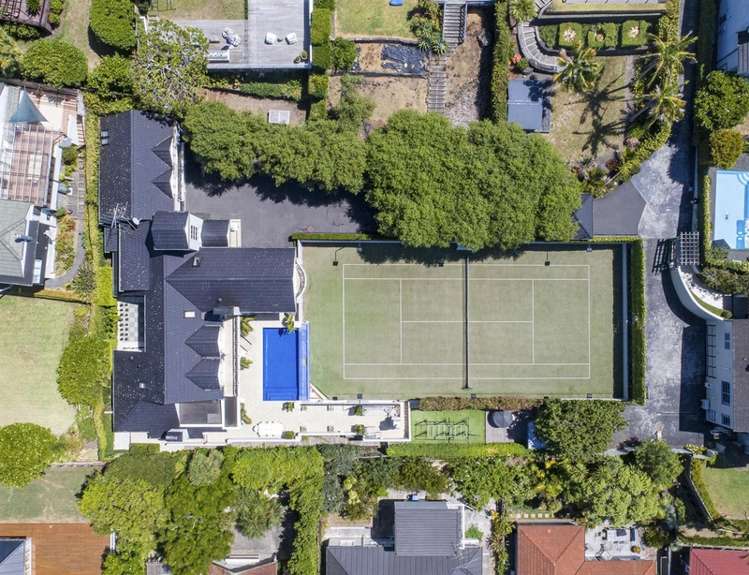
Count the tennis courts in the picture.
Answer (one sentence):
The picture shows just 1 tennis court.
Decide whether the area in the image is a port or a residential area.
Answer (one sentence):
The area seen from above is a residential area.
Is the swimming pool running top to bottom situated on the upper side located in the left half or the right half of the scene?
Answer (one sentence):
The swimming pool running top to bottom situated on the upper side sits on the right side.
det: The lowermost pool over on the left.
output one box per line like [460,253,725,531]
[263,325,312,401]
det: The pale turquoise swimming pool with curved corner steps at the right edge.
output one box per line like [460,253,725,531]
[710,162,749,252]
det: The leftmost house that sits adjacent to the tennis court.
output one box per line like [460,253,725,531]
[98,110,311,452]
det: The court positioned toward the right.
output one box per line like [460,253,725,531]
[304,243,622,402]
